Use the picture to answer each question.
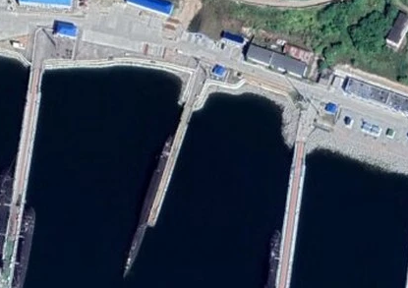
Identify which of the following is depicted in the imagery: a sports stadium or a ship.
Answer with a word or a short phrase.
ship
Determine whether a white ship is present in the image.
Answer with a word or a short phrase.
No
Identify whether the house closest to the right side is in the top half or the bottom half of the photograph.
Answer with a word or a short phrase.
top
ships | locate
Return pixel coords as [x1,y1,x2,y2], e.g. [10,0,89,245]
[13,207,36,288]
[263,229,281,288]
[124,136,173,278]
[0,172,13,253]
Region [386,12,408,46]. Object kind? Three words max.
house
